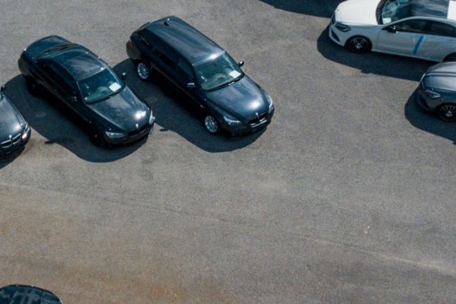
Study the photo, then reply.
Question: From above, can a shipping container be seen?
No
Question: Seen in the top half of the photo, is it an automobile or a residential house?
automobile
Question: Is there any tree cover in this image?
No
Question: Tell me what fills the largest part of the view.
paved ground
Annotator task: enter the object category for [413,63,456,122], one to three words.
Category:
car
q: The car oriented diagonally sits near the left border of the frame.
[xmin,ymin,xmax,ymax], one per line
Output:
[13,34,155,152]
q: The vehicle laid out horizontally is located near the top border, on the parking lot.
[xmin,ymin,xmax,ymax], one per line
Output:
[326,0,456,63]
